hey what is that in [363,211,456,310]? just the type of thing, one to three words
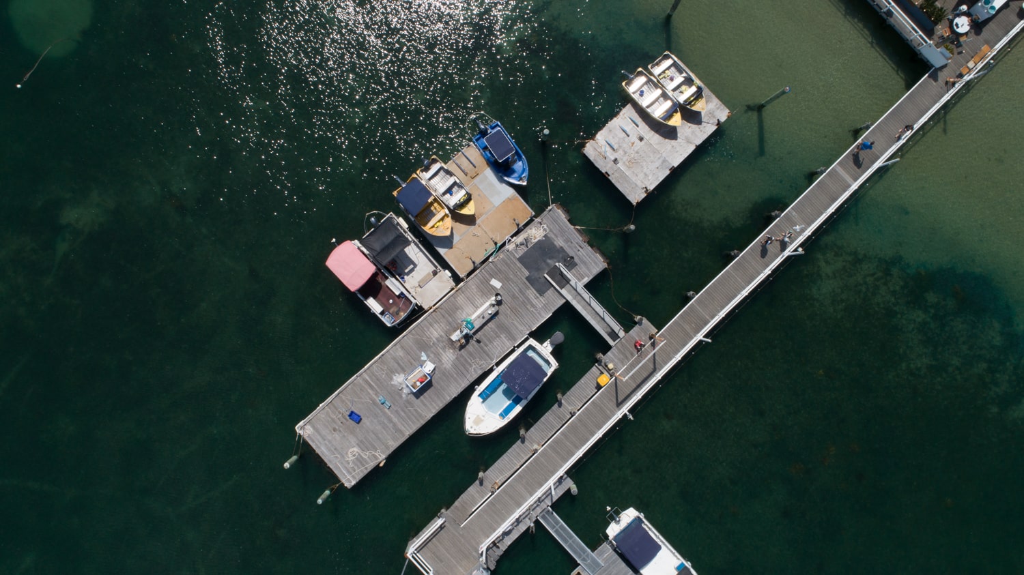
vessel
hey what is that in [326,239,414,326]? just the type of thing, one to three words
boat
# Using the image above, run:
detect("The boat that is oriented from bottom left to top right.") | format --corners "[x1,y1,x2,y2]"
[462,327,566,438]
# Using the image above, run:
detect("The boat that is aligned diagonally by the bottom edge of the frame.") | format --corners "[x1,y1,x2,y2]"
[602,502,697,575]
